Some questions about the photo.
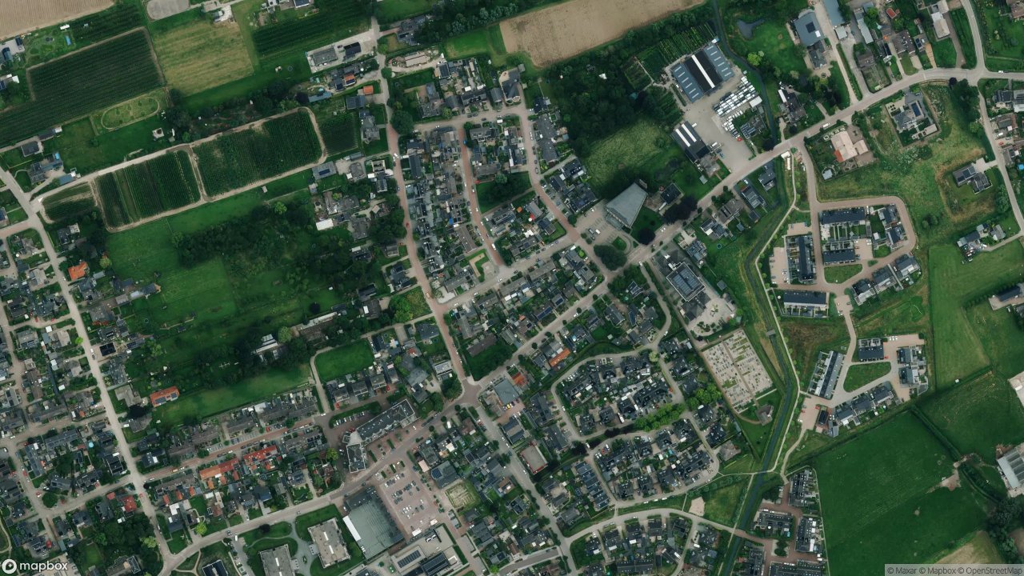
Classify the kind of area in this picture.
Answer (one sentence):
This image shows a residential area.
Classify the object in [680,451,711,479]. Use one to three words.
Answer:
building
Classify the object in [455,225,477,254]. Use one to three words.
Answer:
building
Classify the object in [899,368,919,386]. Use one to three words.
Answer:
house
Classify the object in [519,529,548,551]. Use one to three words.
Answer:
house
